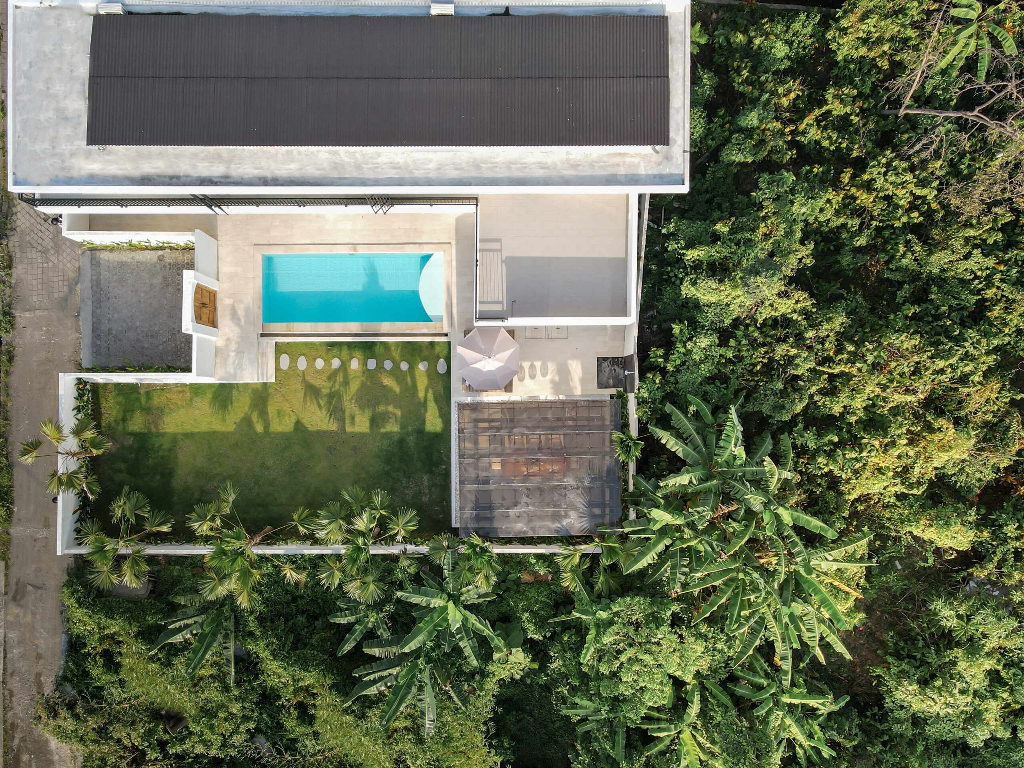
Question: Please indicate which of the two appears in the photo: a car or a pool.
pool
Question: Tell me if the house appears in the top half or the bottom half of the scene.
top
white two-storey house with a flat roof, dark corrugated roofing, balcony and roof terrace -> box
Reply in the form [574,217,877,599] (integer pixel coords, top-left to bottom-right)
[8,0,690,324]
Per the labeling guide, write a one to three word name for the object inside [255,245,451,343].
swimming pool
